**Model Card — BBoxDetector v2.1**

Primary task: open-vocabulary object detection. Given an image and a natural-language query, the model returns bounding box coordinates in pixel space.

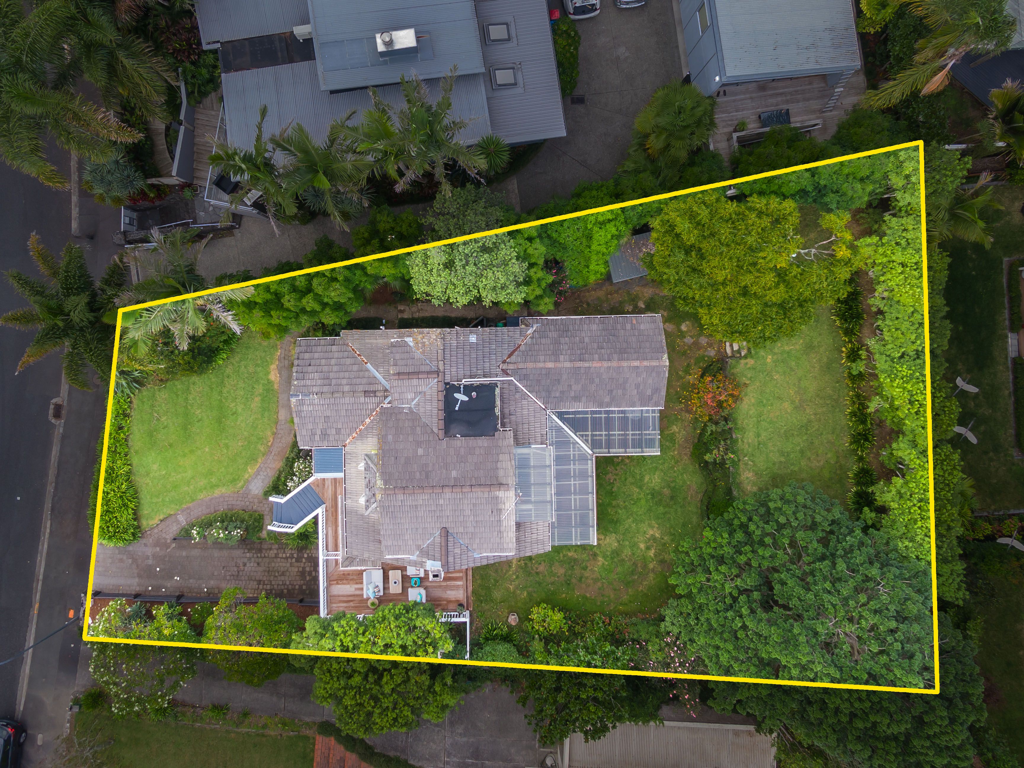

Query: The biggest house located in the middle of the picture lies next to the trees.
[289,314,670,581]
